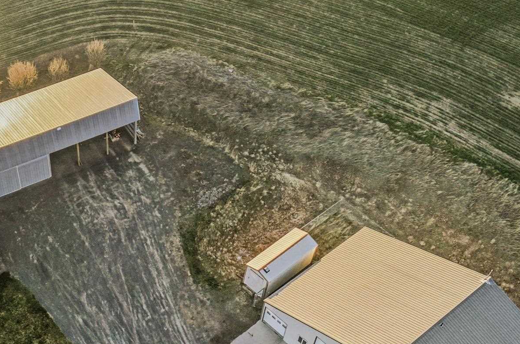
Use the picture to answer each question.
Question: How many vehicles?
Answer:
zero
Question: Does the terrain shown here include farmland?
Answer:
Yes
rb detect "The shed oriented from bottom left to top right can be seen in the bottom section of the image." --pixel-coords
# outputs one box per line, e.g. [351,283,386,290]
[245,229,318,307]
